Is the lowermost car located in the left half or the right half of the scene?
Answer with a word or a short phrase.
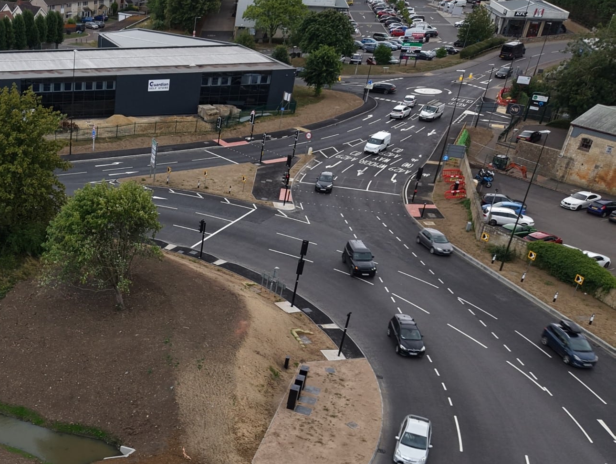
right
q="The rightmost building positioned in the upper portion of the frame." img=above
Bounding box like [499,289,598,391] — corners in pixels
[556,99,616,195]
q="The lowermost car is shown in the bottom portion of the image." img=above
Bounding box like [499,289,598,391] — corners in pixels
[392,417,433,464]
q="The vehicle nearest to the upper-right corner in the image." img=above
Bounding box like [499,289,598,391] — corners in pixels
[504,42,520,56]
